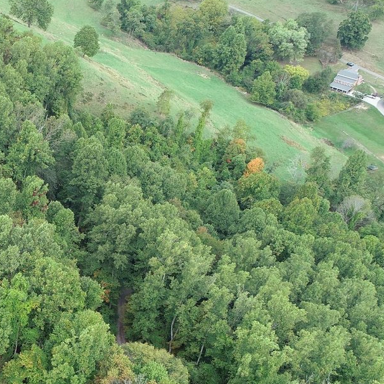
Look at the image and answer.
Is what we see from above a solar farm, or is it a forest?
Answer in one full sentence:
What you see here is a forest.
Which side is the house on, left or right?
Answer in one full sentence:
The house appears in the right half of the scene.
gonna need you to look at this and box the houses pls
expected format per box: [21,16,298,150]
[328,67,367,98]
